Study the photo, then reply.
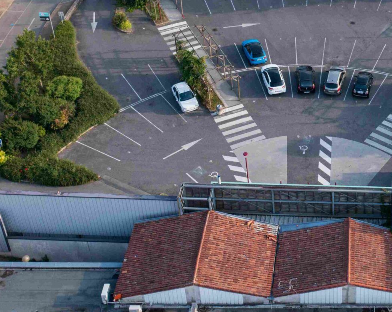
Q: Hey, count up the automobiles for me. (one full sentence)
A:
The number of automobiles here is 6.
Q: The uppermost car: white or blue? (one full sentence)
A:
The uppermost car is blue.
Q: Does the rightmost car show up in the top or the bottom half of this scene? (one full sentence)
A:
The rightmost car is in the top half of the image.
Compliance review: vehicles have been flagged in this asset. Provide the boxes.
[240,37,267,66]
[295,65,315,93]
[354,68,377,95]
[262,64,286,93]
[169,77,197,110]
[324,63,348,94]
